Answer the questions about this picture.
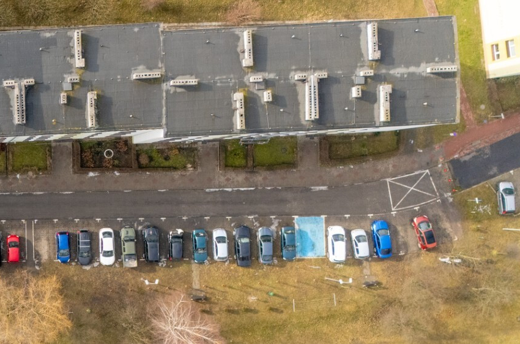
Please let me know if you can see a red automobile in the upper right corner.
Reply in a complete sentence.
No, no red automobile is visible in the upper right corner.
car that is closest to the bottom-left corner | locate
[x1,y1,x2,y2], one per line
[6,234,22,262]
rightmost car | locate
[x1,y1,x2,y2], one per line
[496,181,518,215]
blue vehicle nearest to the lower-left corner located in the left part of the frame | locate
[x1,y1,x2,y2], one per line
[55,231,72,263]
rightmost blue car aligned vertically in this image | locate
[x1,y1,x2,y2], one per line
[371,220,391,259]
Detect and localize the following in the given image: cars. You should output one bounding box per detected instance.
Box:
[349,228,370,259]
[119,227,138,267]
[371,220,391,259]
[6,234,22,262]
[168,229,186,260]
[191,229,209,263]
[211,228,230,261]
[326,225,347,262]
[256,227,275,263]
[76,229,93,265]
[99,228,116,265]
[496,181,518,215]
[279,225,298,260]
[142,225,161,262]
[233,225,253,265]
[55,231,72,263]
[412,215,436,251]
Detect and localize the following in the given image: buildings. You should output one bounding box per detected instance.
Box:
[479,0,520,78]
[0,16,459,152]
